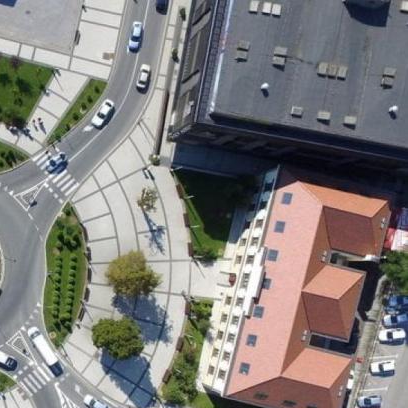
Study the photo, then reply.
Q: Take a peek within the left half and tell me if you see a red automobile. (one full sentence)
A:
No, no red automobile can be made out within the left half.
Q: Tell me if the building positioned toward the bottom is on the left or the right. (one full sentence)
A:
The building positioned toward the bottom sits on the right side.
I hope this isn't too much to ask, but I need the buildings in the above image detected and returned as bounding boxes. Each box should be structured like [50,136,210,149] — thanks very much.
[172,0,408,175]
[204,163,395,408]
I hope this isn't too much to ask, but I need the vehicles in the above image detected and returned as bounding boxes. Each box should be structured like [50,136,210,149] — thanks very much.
[83,395,108,408]
[369,362,394,375]
[0,351,17,369]
[380,313,408,326]
[25,326,60,368]
[127,23,141,52]
[44,153,68,174]
[135,63,151,92]
[376,329,405,342]
[355,394,381,407]
[346,367,360,392]
[92,101,114,127]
